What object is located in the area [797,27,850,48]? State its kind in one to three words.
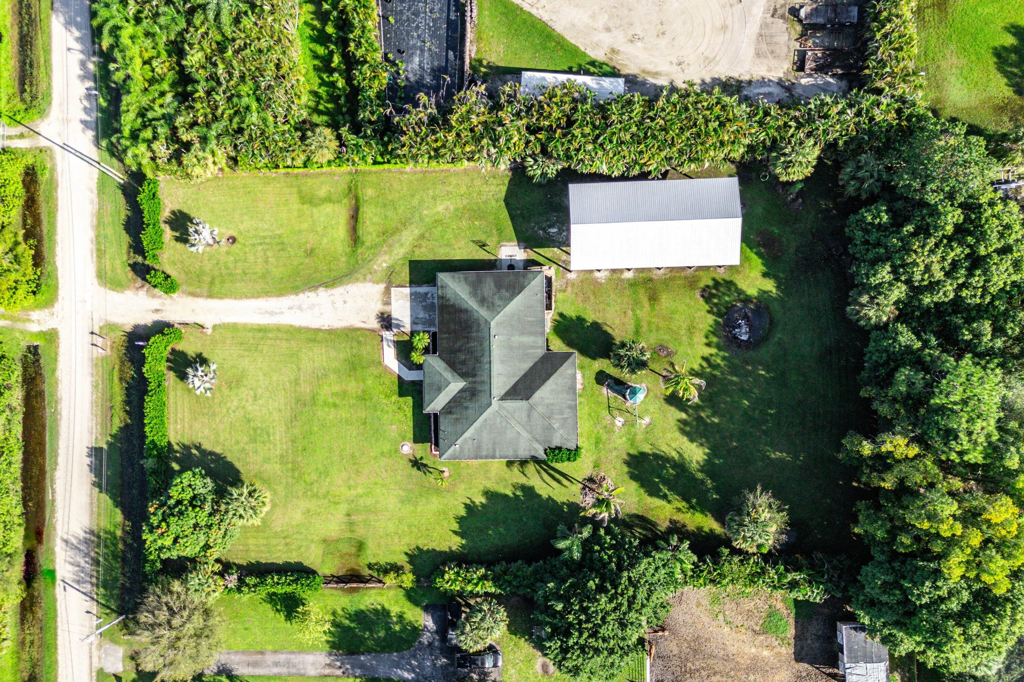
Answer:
trailer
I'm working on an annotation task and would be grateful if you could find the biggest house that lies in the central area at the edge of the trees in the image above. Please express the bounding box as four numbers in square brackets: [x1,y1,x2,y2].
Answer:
[422,270,579,461]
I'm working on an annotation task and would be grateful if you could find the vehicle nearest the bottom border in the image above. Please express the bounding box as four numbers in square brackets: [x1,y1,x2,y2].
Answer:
[452,651,506,676]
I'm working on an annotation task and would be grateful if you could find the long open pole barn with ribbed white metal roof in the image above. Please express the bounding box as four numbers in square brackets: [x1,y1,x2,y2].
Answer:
[567,177,742,277]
